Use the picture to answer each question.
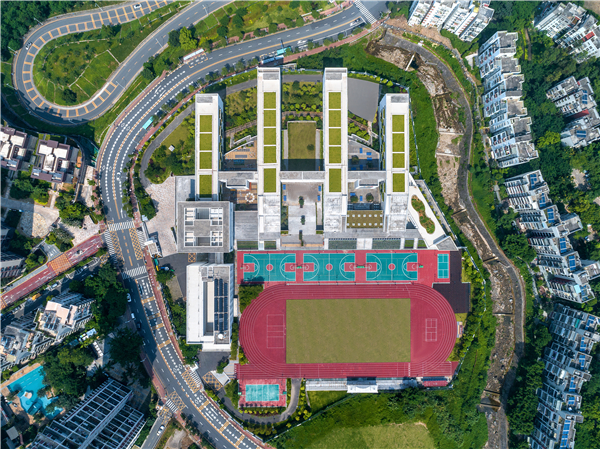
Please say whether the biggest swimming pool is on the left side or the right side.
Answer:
left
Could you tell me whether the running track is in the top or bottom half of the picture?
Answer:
bottom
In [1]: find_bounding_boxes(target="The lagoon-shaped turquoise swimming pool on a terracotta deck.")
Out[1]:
[9,366,62,417]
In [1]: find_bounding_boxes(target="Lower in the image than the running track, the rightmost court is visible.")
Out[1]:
[237,378,287,407]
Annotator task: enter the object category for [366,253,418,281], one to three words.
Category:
basketball court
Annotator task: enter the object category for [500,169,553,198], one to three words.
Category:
building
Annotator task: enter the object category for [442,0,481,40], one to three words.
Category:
building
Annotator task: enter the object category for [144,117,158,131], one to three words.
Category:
vehicle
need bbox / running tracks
[237,284,459,378]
